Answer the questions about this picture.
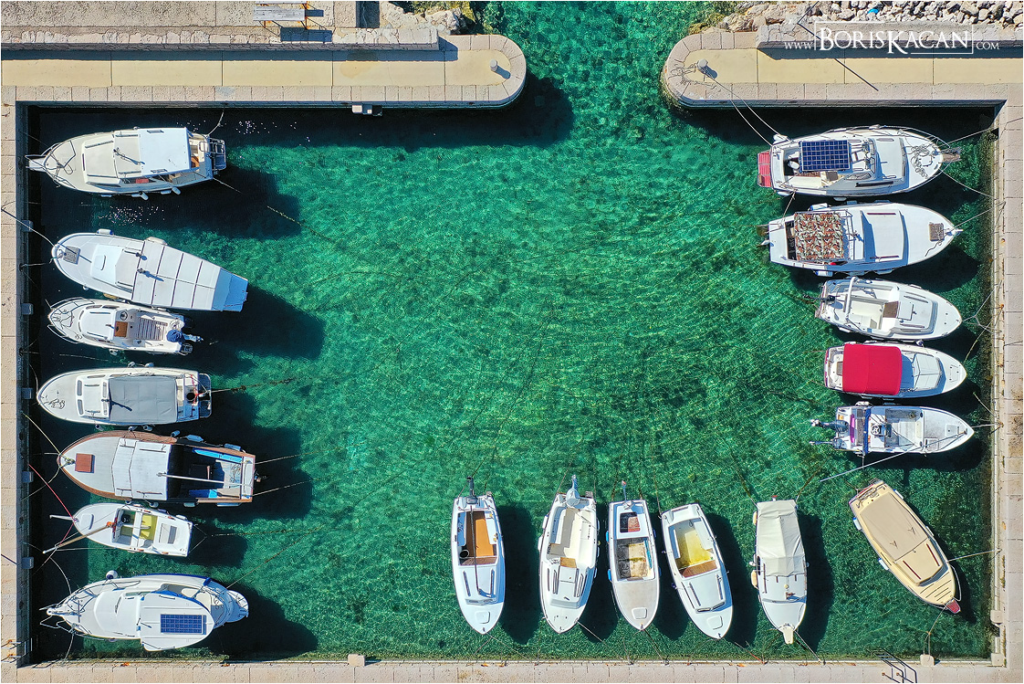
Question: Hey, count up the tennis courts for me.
0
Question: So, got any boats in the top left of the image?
Yes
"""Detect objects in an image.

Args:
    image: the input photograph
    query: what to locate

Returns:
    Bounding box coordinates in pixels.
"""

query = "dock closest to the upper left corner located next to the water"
[0,26,529,112]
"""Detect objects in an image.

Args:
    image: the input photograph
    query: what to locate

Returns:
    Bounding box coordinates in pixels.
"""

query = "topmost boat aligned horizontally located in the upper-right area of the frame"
[756,126,959,200]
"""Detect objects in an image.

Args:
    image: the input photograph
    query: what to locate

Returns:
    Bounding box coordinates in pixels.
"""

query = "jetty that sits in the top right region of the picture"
[657,24,1024,112]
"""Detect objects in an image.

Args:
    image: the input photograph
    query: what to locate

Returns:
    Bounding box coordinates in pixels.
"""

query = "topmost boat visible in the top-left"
[24,127,226,195]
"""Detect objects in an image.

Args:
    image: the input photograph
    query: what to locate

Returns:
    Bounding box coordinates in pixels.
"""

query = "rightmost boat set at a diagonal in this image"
[847,480,962,613]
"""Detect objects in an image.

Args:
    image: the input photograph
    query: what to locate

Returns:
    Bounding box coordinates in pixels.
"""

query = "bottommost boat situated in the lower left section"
[40,569,248,650]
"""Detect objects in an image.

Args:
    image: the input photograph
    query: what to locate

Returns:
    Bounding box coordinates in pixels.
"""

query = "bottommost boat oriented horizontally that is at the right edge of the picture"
[807,405,975,466]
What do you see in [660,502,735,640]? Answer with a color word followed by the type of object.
white boat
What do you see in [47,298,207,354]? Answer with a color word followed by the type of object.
white boat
